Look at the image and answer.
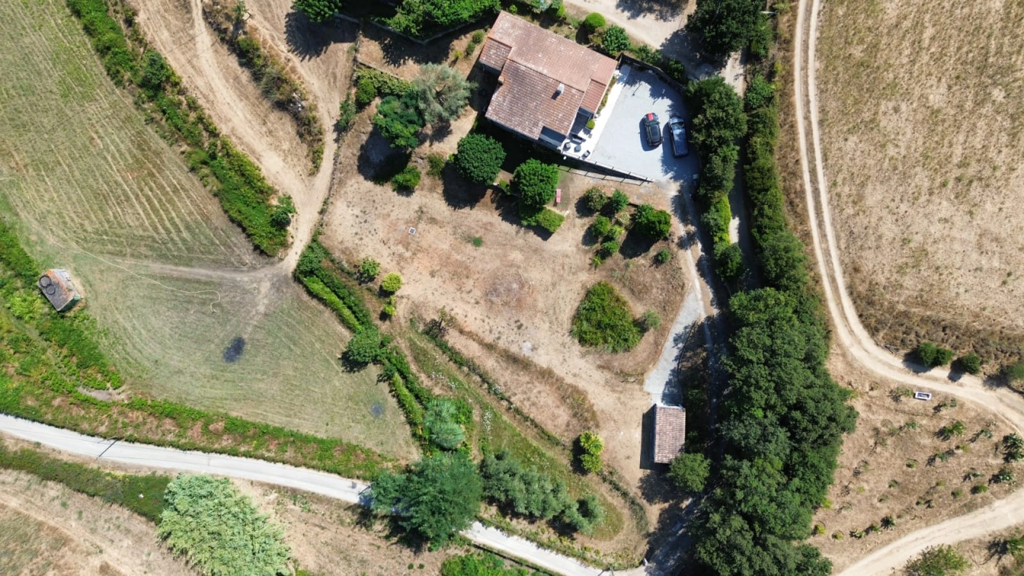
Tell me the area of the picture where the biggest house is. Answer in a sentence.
The biggest house sits in the top section of the image.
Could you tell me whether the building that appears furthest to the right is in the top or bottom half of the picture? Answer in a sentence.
It is in the bottom half that the building that appears furthest to the right appears.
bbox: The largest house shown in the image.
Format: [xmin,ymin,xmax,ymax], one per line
[478,13,617,153]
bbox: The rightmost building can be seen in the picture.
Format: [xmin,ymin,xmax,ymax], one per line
[651,403,686,465]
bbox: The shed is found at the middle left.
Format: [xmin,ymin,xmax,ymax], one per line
[37,269,85,311]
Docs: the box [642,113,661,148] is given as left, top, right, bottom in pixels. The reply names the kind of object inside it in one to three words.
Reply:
car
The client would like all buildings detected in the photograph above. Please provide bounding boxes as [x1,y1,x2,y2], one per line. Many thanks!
[478,13,617,153]
[651,403,686,465]
[37,269,85,311]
